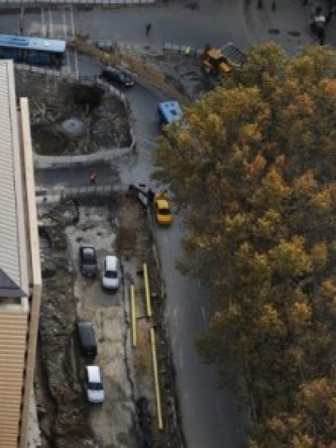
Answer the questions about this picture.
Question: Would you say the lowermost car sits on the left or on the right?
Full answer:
The lowermost car sits on the left side.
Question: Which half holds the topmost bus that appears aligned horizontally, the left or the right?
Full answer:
You can find the topmost bus that appears aligned horizontally on the left side of the picture.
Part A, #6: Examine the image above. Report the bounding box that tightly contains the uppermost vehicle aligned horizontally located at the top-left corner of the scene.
[0,35,66,67]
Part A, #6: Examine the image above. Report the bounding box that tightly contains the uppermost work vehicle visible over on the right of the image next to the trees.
[190,32,231,82]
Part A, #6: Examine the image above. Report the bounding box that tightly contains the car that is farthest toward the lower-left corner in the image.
[86,369,106,400]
